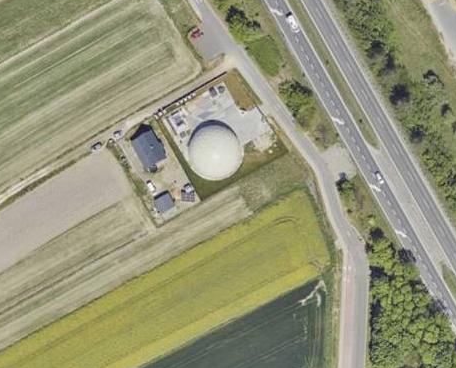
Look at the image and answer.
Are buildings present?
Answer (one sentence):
Yes, there's a building down there.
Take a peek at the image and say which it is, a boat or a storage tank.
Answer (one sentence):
I can see a storage tank in this picture.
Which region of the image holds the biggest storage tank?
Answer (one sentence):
You can find the biggest storage tank in the center area of the picture.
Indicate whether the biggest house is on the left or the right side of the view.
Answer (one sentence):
The biggest house appears in the left half of the scene.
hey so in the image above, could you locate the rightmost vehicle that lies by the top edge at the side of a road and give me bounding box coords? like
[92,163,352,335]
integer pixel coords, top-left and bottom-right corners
[286,13,300,31]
